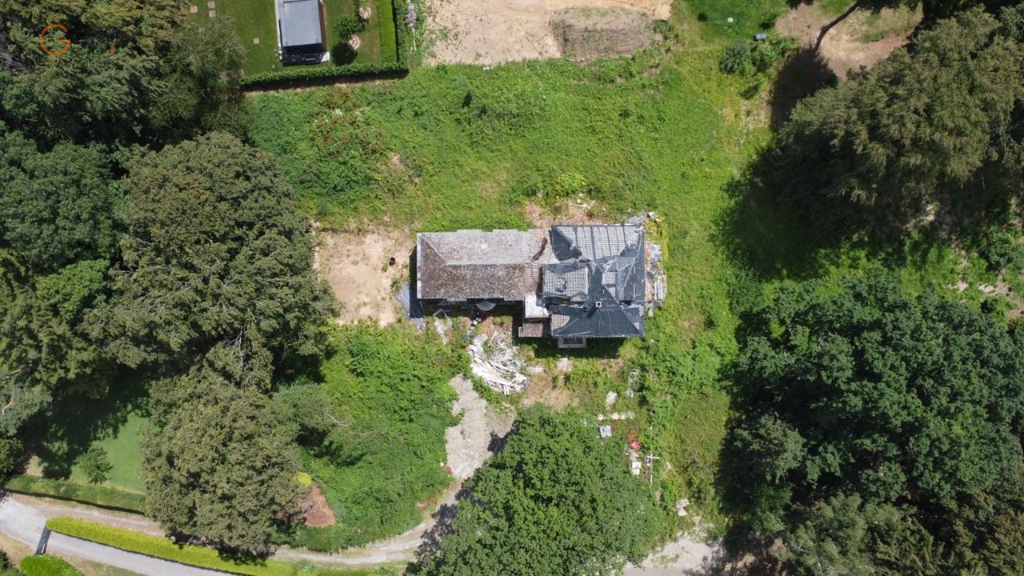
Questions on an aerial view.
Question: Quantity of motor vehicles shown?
none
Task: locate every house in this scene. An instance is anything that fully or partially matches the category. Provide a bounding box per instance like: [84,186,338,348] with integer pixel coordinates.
[403,223,645,348]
